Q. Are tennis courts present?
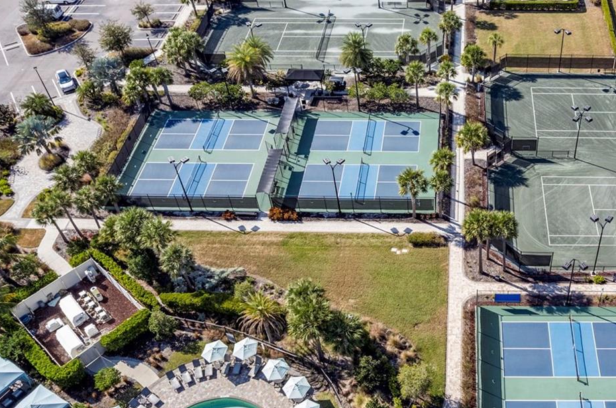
Yes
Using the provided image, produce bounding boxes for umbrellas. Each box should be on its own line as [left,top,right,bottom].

[231,337,261,366]
[293,399,322,408]
[281,375,313,404]
[261,357,290,386]
[201,340,230,367]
